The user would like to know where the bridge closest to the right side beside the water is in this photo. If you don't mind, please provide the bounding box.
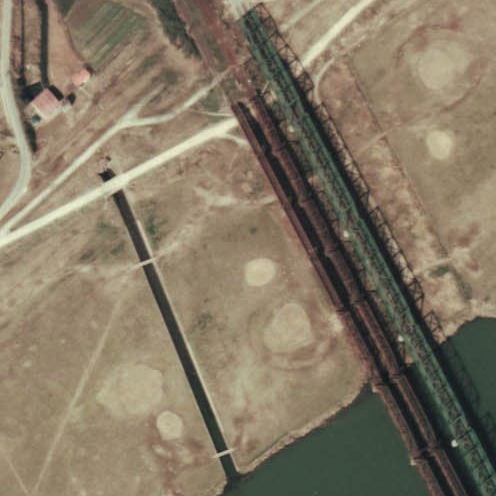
[239,15,496,496]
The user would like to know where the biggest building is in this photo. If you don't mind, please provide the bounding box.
[32,89,62,122]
